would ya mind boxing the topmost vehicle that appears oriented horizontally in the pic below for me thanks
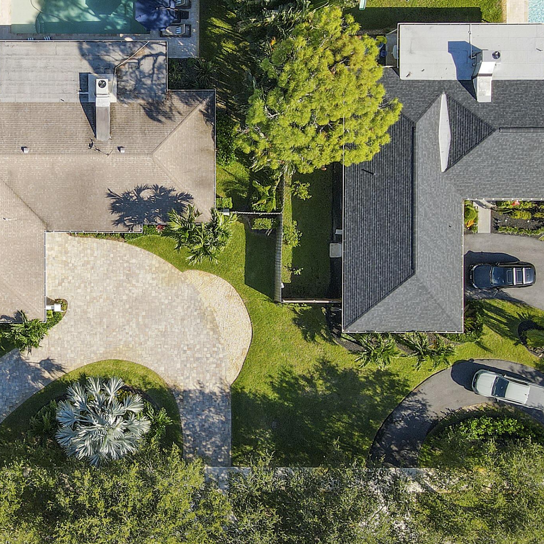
[466,259,538,293]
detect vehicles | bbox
[466,369,544,412]
[466,259,538,293]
